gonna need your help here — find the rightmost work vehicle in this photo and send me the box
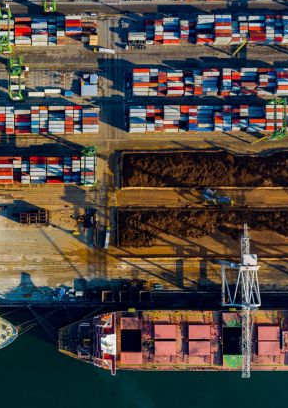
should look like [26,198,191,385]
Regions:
[202,188,232,203]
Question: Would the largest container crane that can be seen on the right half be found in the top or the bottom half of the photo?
bottom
